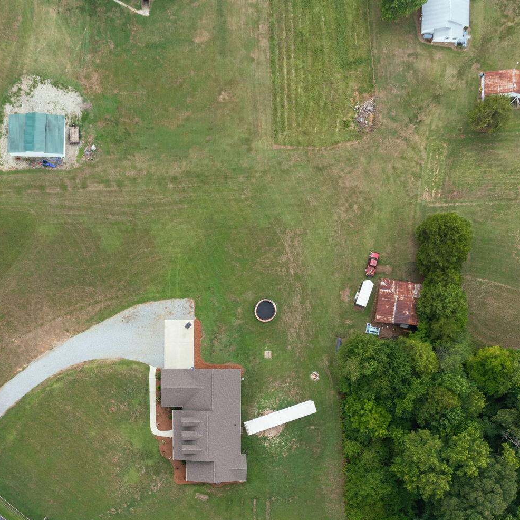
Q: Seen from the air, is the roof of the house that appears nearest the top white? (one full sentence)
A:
Yes, the roof of the house that appears nearest the top appears white.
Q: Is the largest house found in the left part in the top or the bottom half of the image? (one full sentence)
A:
The bottom half of the photo is where the largest house found in the left part is.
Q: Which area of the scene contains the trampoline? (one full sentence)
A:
The trampoline appears toward the center of the photo.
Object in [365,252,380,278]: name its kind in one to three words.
vehicle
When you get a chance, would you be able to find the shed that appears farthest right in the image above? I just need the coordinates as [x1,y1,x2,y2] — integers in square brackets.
[482,69,520,101]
